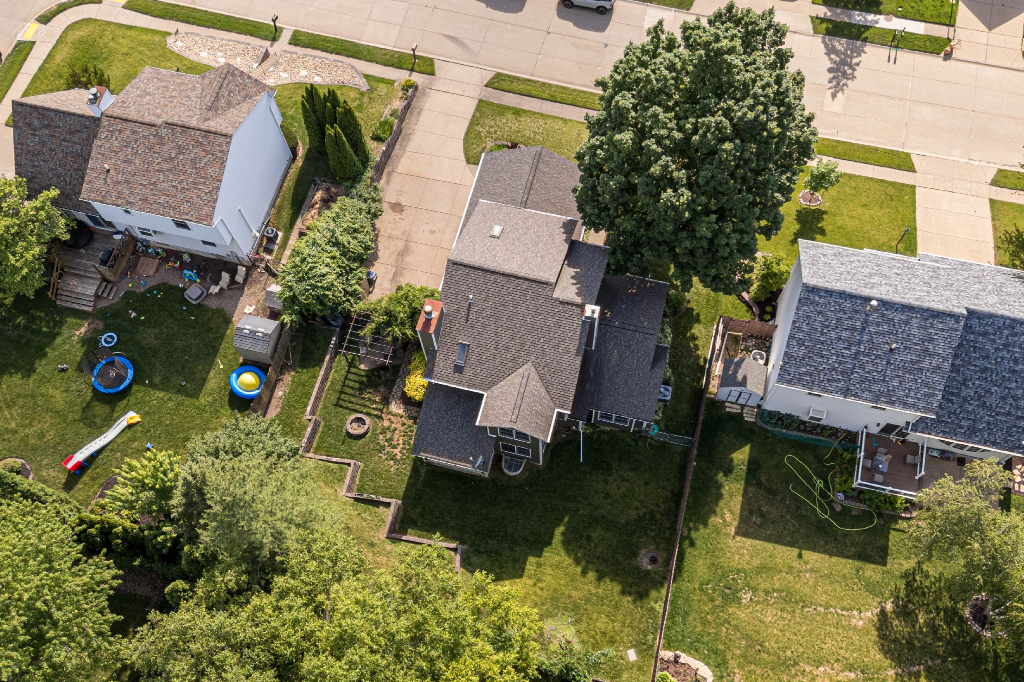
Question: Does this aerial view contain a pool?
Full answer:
Yes, looking at the shot, I can spot a pool.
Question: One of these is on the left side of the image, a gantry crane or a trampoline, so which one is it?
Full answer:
What appears on the left side of the image is a trampoline.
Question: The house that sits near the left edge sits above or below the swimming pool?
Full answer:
In the image, the house that sits near the left edge appears above the swimming pool.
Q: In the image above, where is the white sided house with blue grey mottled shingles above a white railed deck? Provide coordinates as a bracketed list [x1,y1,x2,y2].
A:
[761,238,1024,469]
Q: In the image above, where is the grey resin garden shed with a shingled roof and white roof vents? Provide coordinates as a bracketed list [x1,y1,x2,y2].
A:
[231,313,280,362]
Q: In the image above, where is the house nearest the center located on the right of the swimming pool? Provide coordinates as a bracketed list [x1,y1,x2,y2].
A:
[411,140,675,485]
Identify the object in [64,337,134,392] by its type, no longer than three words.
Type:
trampoline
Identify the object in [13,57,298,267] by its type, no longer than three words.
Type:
house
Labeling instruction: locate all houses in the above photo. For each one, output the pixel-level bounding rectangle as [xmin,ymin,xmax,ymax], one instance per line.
[761,238,1024,469]
[13,57,298,267]
[411,140,675,485]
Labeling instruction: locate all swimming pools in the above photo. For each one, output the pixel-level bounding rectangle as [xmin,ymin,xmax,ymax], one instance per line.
[227,362,265,402]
